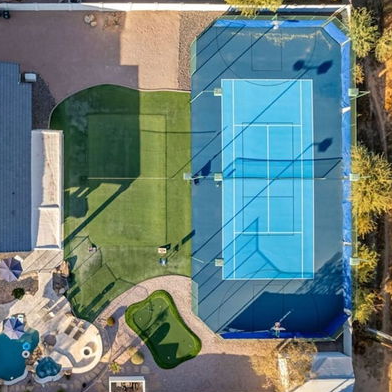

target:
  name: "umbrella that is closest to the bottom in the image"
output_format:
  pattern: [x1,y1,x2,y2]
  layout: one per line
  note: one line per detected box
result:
[4,316,26,337]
